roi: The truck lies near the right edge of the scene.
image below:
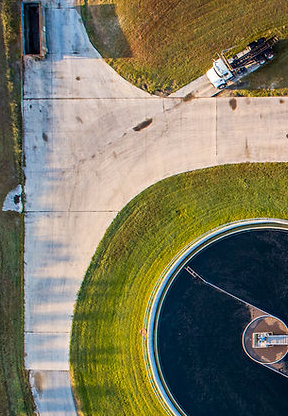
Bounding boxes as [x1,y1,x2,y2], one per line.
[204,33,278,91]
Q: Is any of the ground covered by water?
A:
Yes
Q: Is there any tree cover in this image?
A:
No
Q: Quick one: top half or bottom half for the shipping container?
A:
top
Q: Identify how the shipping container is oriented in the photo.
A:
up and down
